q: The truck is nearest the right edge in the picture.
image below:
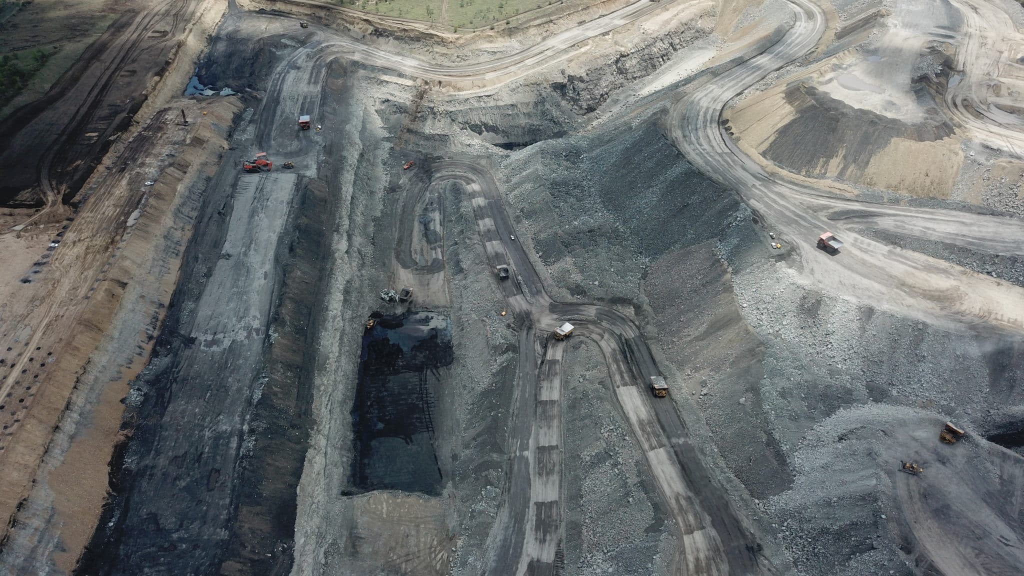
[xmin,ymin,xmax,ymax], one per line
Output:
[937,418,968,447]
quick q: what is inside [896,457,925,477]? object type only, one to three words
work vehicle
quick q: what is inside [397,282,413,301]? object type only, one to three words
vehicle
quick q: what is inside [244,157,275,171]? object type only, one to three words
work vehicle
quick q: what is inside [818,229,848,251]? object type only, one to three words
truck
